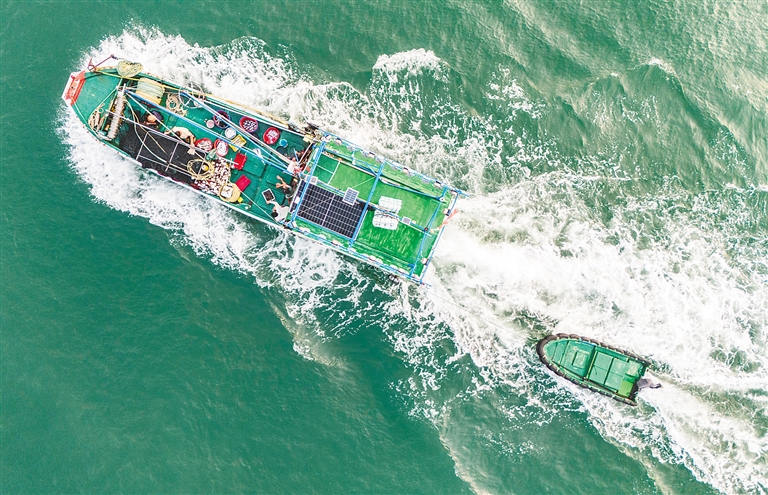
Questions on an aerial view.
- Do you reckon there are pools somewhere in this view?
No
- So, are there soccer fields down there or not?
No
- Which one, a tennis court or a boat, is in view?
boat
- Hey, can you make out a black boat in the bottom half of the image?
No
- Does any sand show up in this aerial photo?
No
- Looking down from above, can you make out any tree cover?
No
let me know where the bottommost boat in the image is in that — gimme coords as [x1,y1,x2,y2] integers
[537,332,662,404]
